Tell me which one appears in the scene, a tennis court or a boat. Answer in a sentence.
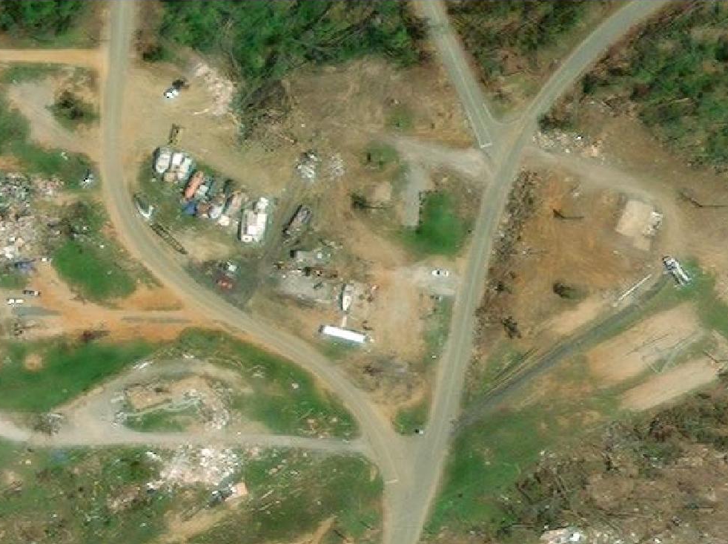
Of the two, only a boat appears.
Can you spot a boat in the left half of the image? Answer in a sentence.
Yes, a boat is visible in the left half of the image.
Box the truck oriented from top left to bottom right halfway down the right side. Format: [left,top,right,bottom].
[666,257,687,284]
